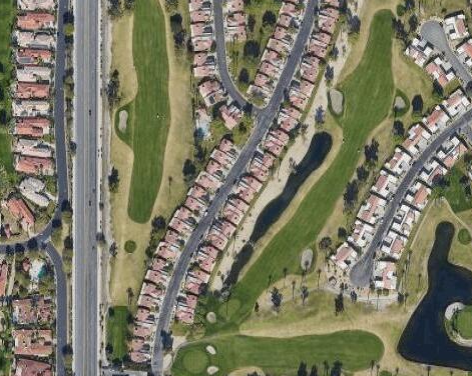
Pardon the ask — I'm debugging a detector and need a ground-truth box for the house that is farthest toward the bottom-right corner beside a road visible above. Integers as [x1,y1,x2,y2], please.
[369,257,402,288]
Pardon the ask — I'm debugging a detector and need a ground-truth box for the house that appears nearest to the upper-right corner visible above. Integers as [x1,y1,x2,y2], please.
[443,11,472,43]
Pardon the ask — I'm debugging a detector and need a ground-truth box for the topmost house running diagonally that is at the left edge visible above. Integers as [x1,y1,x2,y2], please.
[15,175,53,209]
